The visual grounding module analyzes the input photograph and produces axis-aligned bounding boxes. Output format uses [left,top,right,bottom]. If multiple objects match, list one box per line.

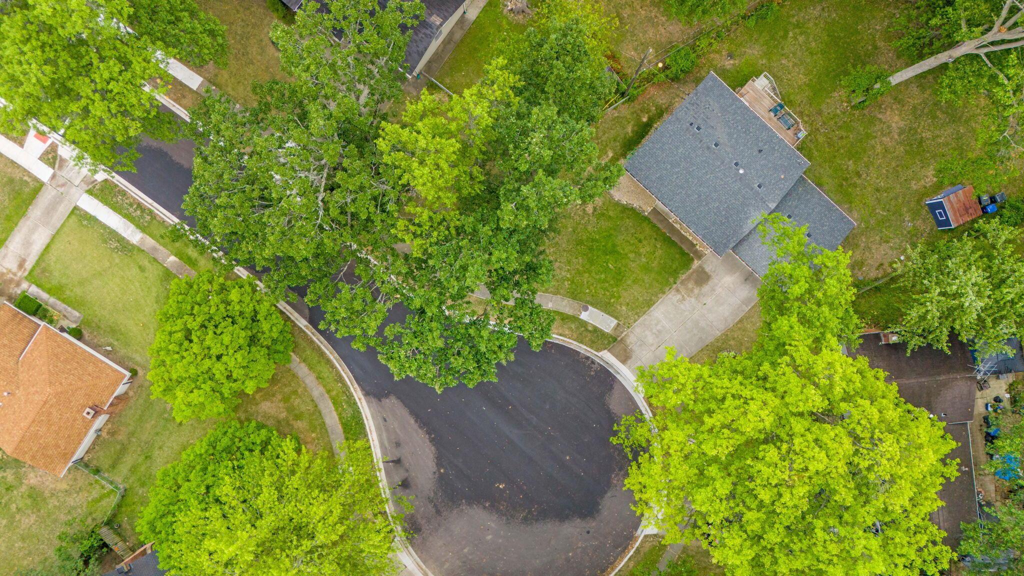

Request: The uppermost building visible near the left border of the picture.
[0,293,142,478]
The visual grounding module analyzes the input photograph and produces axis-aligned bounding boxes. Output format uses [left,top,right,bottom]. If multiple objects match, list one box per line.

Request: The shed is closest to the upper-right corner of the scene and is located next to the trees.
[926,188,984,230]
